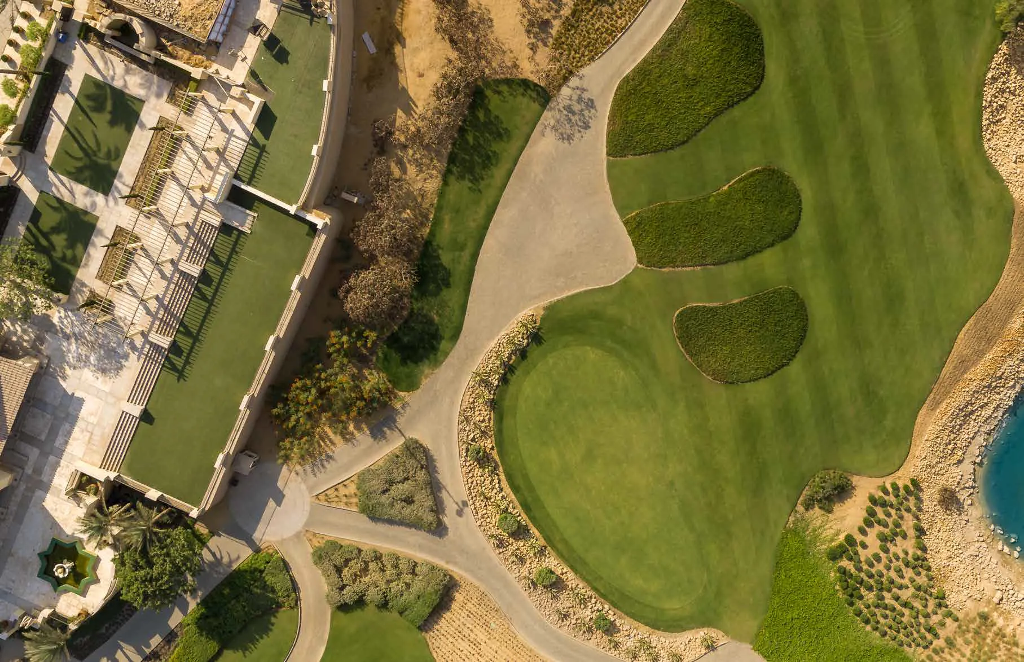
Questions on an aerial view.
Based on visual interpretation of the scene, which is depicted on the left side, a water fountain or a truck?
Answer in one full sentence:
You can see a water fountain on the left side.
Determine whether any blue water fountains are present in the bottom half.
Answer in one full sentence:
No, I can find no blue water fountain in the bottom half.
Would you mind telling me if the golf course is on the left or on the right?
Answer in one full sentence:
The golf course sits on the right side.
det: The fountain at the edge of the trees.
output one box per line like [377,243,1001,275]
[33,539,99,597]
